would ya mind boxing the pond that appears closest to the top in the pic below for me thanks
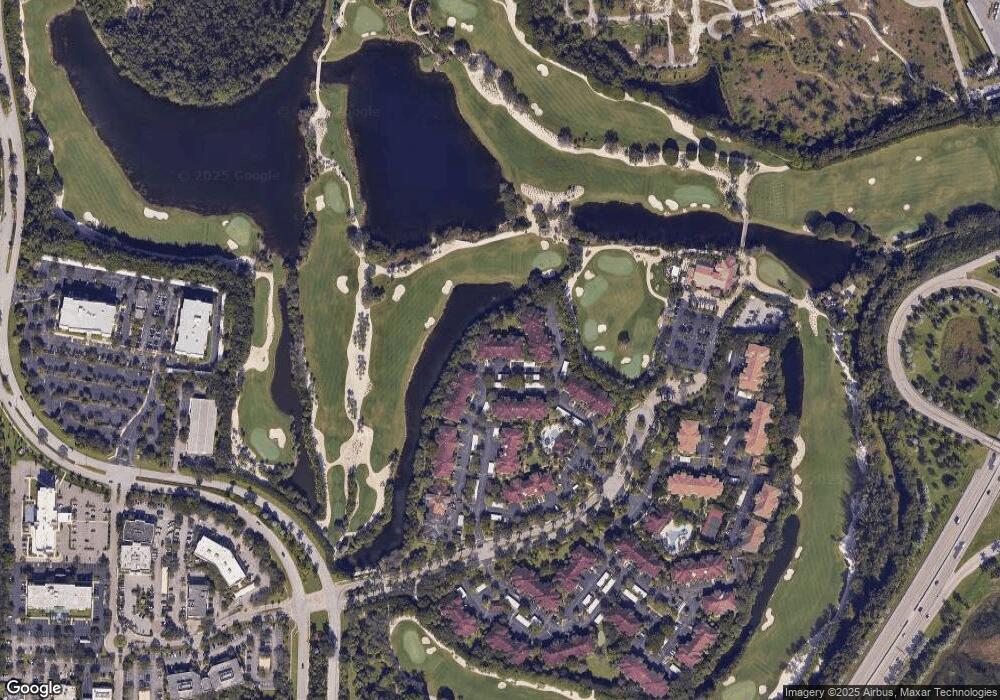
[630,66,734,119]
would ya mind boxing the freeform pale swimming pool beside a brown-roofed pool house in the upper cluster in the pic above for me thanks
[540,424,562,455]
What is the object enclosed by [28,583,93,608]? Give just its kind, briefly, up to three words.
building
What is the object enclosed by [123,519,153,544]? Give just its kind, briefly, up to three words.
building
